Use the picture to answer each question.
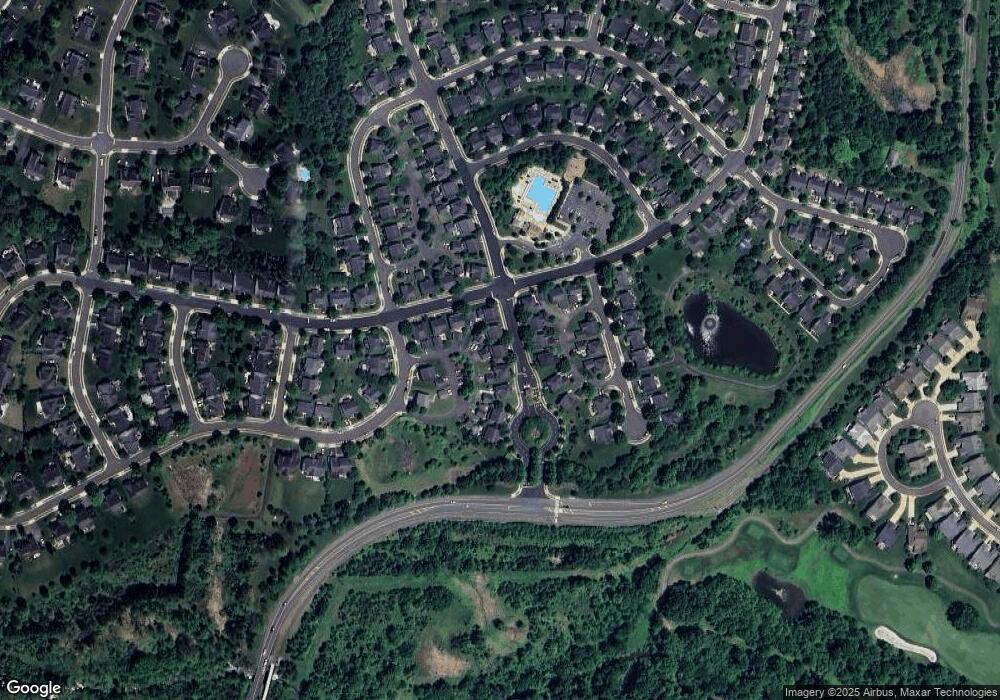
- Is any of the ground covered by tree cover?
Yes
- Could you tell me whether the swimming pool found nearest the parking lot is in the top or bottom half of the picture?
top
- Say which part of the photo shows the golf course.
bottom right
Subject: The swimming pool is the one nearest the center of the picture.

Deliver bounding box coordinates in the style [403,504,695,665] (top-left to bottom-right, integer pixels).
[512,168,562,232]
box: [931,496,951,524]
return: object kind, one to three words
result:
house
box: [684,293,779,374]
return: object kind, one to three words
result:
pond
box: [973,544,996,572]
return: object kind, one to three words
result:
house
